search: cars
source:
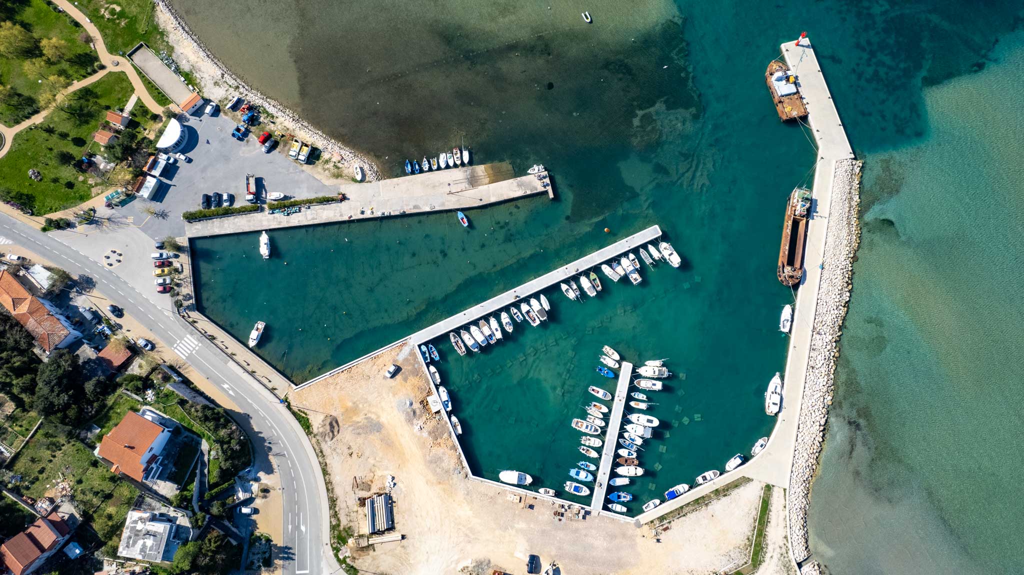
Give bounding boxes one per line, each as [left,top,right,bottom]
[152,241,170,249]
[5,253,23,262]
[157,151,176,166]
[107,304,123,318]
[223,192,231,207]
[148,251,169,260]
[137,337,154,351]
[235,506,257,516]
[200,192,210,208]
[262,137,276,154]
[174,151,190,164]
[153,259,172,267]
[203,101,217,116]
[212,192,220,207]
[529,553,537,575]
[155,285,173,293]
[384,363,399,380]
[153,277,173,286]
[258,131,272,146]
[152,268,169,277]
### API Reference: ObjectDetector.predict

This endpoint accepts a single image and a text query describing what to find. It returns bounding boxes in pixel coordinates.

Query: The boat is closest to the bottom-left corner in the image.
[248,320,266,347]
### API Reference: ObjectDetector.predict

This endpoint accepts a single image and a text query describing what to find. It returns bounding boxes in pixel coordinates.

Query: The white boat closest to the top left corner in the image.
[226,95,240,109]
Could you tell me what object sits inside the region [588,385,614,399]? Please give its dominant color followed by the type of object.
white boat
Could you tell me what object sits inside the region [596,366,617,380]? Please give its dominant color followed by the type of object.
blue boat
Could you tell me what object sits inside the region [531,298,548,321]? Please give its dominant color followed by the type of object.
white boat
